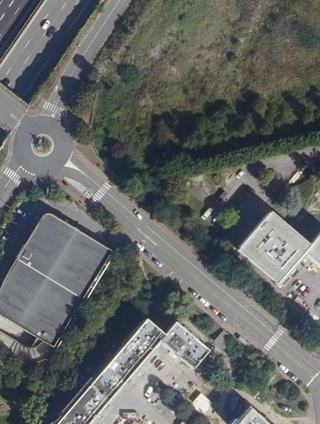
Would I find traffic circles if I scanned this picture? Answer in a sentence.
Yes, there's a traffic circle down there.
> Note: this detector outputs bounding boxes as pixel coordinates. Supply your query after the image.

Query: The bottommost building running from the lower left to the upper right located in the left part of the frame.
[55,316,164,424]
